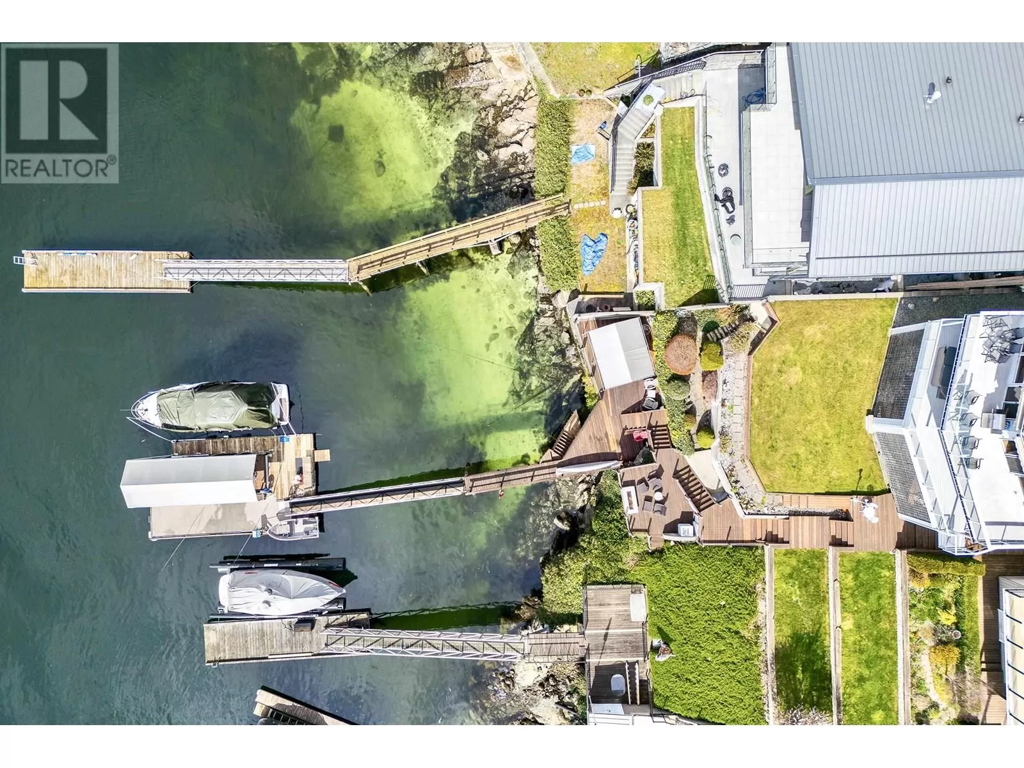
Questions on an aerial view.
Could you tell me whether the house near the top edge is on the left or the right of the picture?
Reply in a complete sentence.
The house near the top edge is on the right side of the image.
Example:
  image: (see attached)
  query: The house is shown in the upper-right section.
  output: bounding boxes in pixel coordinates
[741,0,1024,280]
